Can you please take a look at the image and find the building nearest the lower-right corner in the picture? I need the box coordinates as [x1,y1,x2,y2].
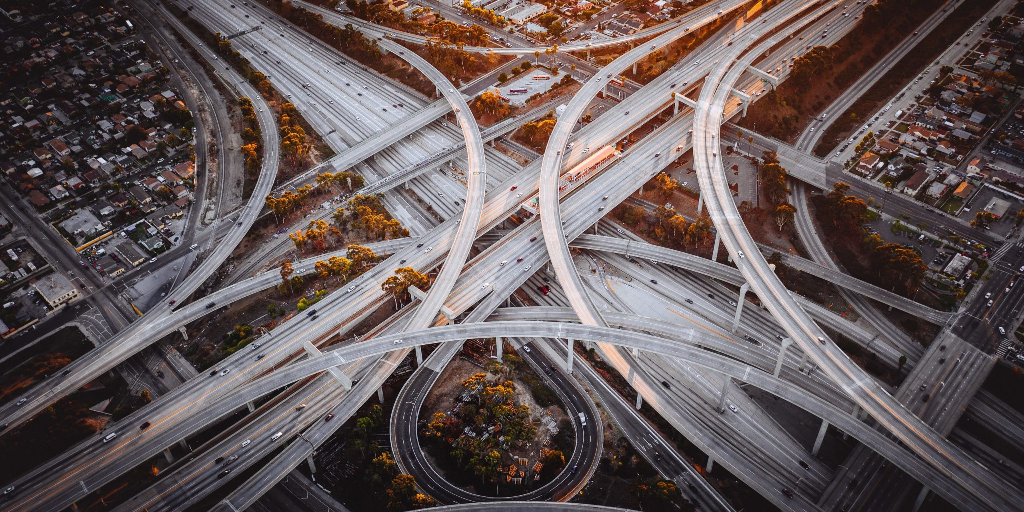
[939,250,977,290]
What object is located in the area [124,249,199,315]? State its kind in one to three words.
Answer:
building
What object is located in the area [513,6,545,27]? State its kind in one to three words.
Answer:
house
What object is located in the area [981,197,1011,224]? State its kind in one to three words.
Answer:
building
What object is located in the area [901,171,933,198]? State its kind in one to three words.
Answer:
house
